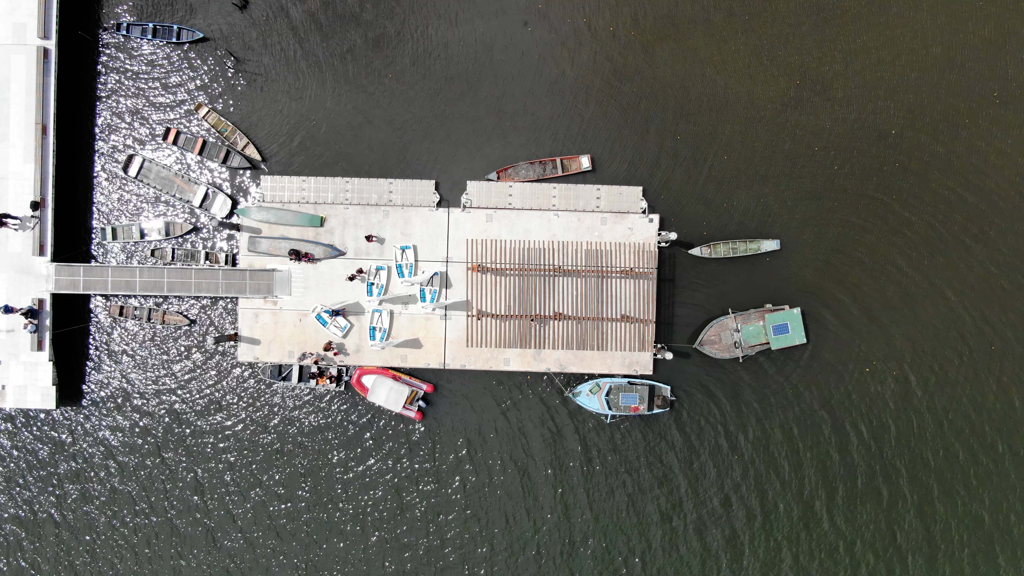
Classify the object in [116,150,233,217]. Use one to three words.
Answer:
boat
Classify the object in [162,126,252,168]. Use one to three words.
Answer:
boat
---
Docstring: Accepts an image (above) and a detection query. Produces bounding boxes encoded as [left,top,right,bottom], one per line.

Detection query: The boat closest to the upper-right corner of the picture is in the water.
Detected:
[688,239,781,258]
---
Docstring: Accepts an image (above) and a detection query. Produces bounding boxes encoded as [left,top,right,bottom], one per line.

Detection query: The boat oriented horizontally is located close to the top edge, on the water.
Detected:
[115,22,204,42]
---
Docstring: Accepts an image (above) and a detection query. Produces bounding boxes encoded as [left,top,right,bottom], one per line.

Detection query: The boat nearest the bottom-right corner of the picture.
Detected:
[692,305,807,362]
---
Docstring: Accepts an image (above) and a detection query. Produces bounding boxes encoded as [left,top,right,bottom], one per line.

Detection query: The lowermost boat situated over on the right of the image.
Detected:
[564,377,676,423]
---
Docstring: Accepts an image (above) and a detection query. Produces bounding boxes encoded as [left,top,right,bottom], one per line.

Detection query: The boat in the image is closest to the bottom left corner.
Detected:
[108,304,191,327]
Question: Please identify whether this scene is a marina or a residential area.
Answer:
marina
